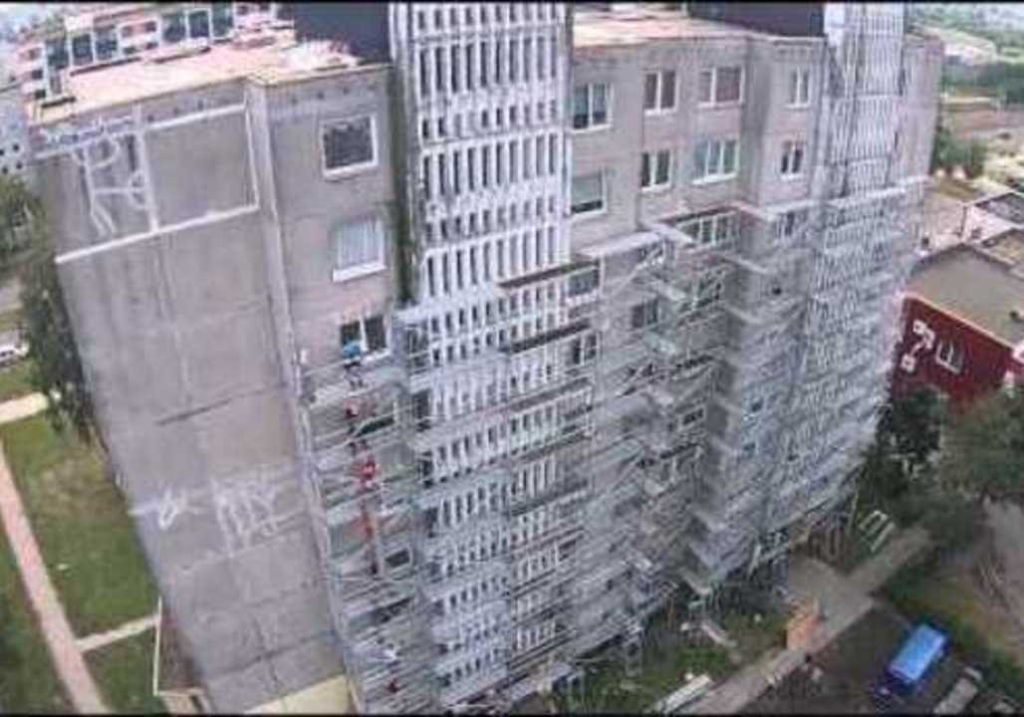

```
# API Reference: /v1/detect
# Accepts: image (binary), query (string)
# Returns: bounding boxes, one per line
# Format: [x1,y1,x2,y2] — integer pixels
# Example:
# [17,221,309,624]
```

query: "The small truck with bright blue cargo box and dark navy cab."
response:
[867,620,948,717]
